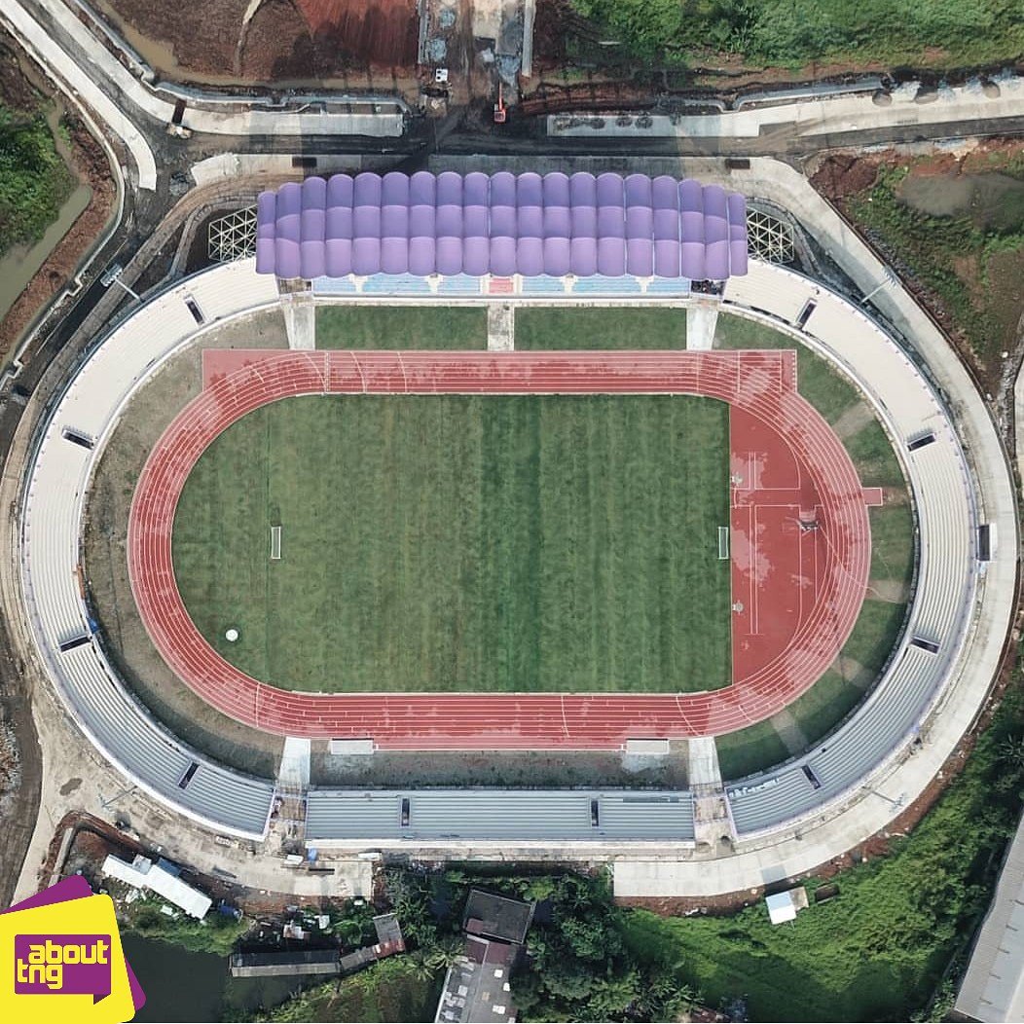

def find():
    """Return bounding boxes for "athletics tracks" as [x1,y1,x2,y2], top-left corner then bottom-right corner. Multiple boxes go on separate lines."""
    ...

[127,348,883,755]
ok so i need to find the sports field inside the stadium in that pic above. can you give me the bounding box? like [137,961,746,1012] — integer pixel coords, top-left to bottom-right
[175,395,733,691]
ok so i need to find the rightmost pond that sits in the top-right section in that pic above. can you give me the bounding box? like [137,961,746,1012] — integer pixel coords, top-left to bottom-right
[897,174,1024,229]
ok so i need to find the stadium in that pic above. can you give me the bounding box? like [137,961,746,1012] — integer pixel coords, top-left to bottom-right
[16,170,994,851]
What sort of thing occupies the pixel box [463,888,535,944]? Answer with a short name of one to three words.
house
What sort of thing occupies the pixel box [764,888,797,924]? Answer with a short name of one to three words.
shed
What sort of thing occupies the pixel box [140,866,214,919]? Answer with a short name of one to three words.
shed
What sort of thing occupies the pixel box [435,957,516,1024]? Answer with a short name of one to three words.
house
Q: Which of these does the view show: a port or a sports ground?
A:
sports ground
